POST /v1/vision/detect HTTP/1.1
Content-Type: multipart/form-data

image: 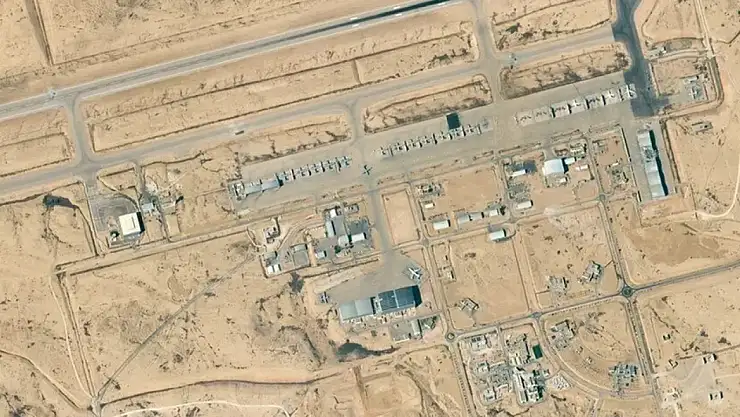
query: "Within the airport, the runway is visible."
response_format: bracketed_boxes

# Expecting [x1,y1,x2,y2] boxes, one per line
[0,0,472,119]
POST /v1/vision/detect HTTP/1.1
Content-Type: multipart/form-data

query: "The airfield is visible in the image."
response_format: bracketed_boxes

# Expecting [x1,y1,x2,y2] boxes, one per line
[0,0,708,309]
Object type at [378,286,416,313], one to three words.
hangar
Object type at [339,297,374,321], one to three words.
hangar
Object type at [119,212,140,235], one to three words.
building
